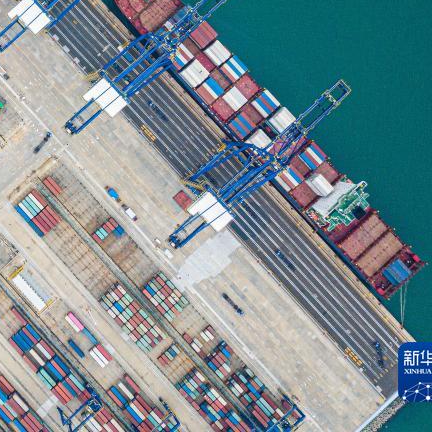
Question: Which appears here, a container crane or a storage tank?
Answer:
container crane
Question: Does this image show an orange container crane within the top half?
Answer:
No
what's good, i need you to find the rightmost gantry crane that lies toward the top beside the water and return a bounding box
[165,78,354,252]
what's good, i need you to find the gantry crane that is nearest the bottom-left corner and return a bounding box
[56,380,103,432]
